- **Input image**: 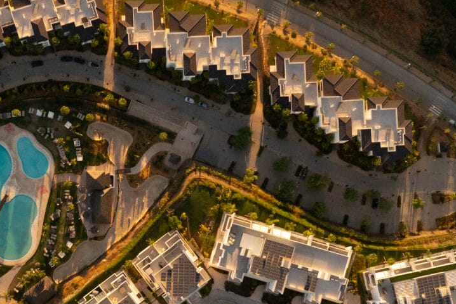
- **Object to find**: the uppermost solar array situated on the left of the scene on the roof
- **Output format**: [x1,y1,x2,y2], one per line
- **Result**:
[167,259,196,297]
